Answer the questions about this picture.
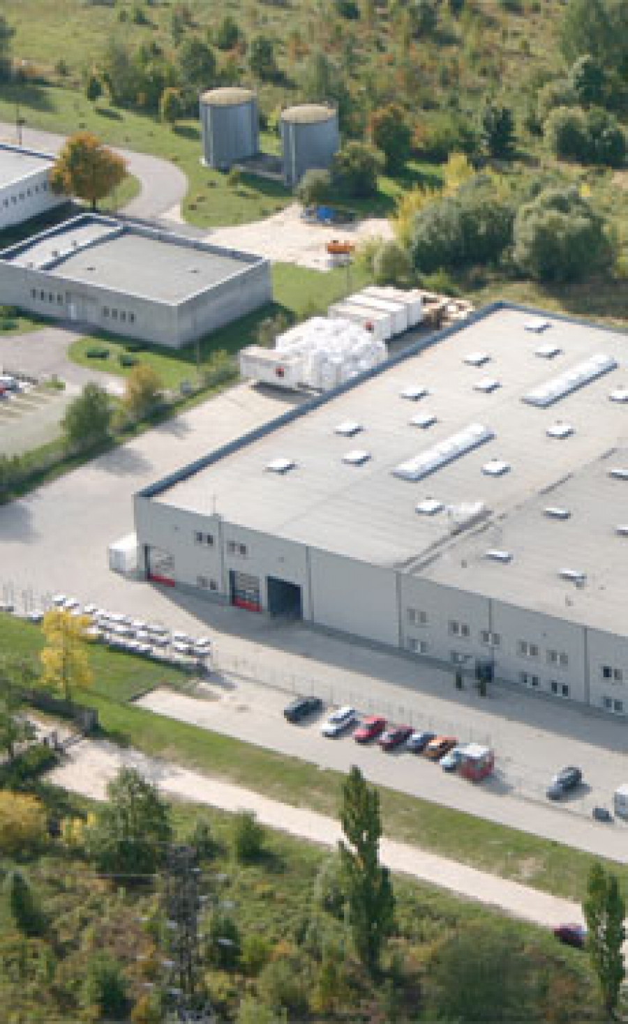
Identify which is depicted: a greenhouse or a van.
van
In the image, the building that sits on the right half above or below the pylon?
above it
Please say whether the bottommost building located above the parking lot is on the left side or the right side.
left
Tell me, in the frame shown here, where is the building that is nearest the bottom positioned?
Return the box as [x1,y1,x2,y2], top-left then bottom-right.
[130,298,628,722]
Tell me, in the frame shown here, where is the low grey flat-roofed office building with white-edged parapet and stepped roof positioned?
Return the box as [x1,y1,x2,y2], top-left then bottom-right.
[0,215,272,347]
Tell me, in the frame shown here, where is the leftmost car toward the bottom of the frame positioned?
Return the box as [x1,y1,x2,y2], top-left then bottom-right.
[278,688,327,720]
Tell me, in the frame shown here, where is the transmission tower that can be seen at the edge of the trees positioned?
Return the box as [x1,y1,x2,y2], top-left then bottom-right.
[128,842,250,1024]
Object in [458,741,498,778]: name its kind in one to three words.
van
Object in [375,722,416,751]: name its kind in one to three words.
car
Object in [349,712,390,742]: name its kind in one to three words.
car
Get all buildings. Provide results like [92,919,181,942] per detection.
[0,215,272,347]
[0,140,68,229]
[130,298,628,722]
